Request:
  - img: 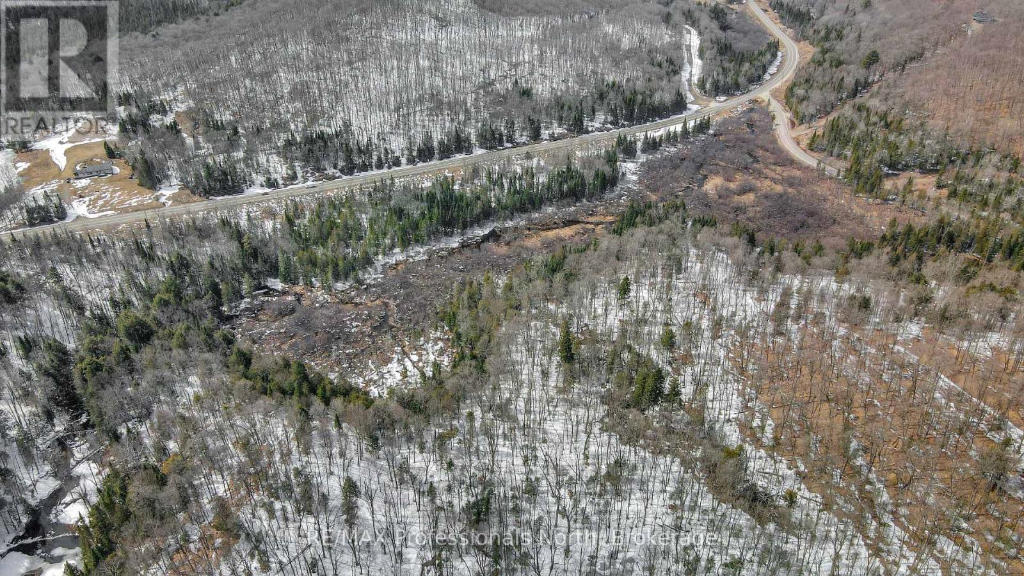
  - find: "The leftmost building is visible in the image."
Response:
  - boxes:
[71,158,110,178]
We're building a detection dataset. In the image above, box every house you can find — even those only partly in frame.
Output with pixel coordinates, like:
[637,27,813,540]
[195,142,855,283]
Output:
[969,10,995,23]
[71,158,110,178]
